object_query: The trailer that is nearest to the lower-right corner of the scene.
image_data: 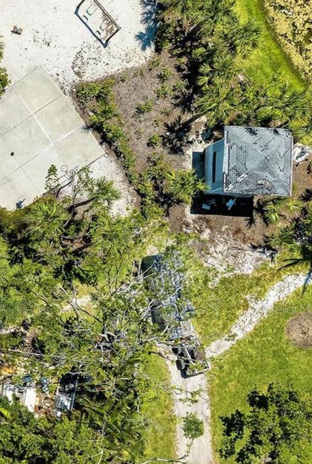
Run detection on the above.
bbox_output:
[166,332,208,378]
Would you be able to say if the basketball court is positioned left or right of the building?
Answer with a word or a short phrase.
to the left of it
